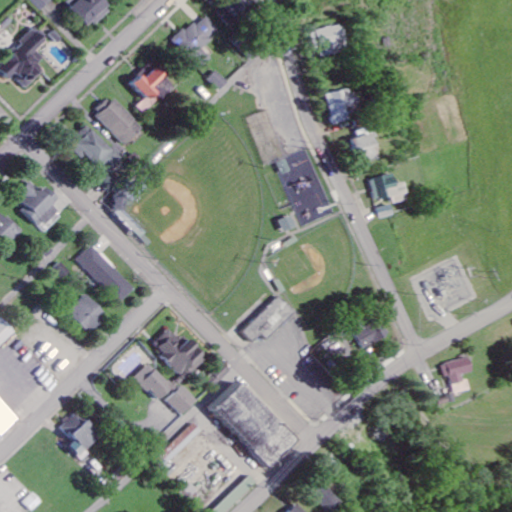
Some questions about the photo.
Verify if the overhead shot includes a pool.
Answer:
Yes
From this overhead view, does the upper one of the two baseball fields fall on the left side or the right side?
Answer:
left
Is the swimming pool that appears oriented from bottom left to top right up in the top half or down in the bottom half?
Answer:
bottom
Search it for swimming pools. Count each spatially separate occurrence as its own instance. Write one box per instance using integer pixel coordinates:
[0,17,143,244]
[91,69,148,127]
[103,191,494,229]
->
[50,45,68,64]
[120,352,143,372]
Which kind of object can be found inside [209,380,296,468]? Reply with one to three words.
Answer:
building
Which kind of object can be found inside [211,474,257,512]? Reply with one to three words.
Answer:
shed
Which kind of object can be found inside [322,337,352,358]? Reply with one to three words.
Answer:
house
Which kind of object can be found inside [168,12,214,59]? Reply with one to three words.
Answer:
house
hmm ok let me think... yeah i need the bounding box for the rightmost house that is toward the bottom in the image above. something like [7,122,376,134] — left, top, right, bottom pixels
[440,356,474,398]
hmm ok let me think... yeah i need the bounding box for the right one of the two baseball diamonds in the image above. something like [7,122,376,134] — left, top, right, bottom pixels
[280,244,325,294]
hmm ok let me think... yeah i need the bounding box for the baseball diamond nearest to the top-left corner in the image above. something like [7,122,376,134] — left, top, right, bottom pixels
[132,178,197,243]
